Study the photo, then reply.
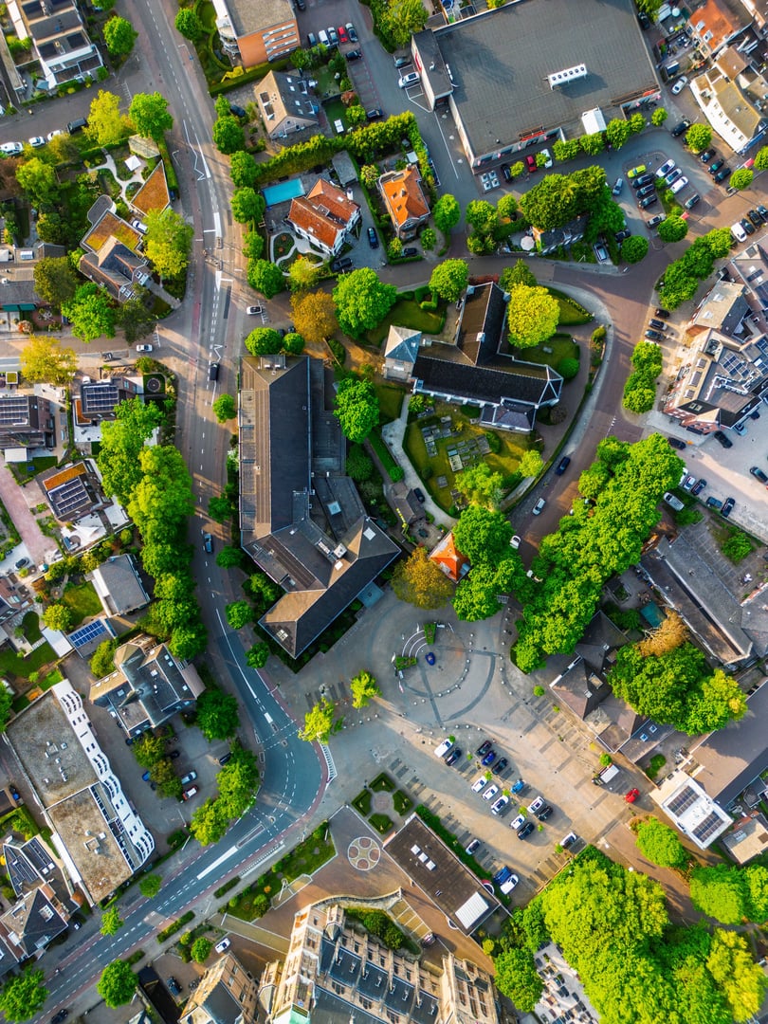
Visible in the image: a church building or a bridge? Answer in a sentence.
I can see a church building in this picture.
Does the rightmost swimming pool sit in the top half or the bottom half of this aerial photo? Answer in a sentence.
It is in the top half that the rightmost swimming pool appears.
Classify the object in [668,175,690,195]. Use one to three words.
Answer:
vehicle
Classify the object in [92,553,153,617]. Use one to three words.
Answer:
house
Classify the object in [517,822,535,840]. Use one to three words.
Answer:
car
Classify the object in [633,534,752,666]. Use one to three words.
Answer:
building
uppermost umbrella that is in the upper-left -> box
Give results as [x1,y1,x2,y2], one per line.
[124,155,141,171]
